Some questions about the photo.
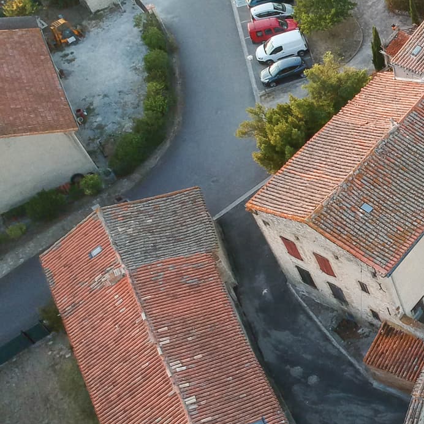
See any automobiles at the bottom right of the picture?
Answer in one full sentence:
No, no automobile is visible at the bottom right of the picture.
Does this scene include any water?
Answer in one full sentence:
No, the scene doesn't show any water.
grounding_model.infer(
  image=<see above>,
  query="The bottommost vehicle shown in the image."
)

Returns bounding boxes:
[254,51,304,85]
